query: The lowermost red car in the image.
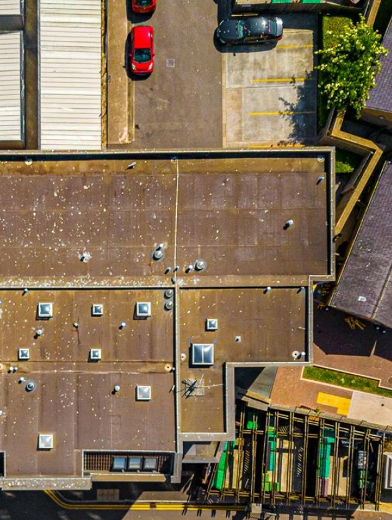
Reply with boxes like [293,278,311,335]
[127,26,156,78]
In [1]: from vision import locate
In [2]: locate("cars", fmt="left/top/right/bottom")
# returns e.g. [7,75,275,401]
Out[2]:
[127,26,156,78]
[213,14,282,48]
[131,0,156,15]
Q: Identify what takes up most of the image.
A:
buildings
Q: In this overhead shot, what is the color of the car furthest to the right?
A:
black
